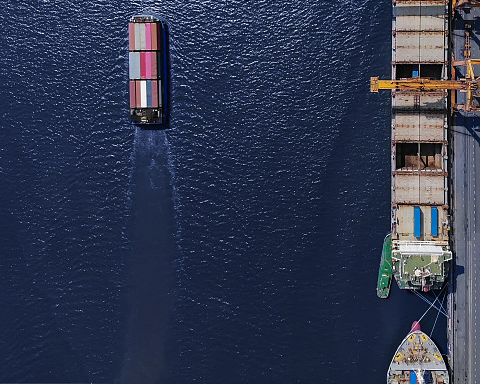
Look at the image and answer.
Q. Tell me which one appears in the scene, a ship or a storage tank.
ship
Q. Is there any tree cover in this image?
No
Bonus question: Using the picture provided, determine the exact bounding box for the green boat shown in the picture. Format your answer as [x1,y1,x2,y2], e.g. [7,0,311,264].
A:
[377,233,392,299]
